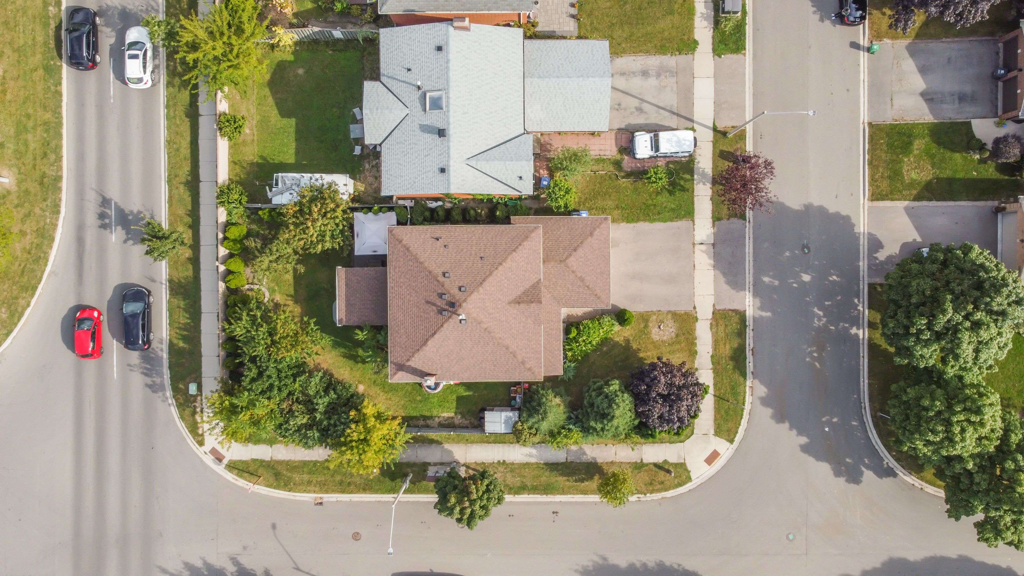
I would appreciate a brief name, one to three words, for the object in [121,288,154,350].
car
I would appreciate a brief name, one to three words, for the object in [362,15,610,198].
house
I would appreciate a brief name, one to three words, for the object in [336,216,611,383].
house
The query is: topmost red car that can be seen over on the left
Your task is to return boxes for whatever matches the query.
[73,309,105,357]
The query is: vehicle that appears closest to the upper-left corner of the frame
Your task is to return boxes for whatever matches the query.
[66,8,101,71]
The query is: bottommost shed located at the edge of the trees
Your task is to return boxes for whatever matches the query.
[484,409,518,434]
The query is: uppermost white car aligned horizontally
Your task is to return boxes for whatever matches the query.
[632,127,699,160]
